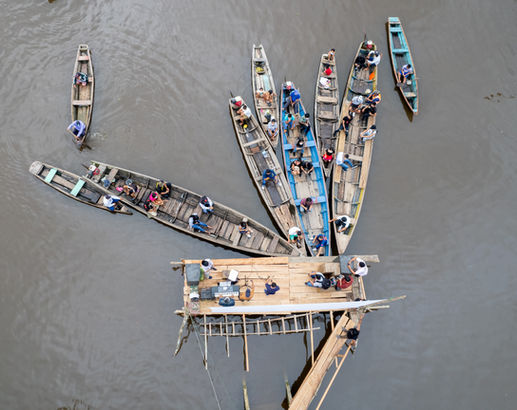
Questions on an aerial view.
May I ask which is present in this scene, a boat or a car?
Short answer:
boat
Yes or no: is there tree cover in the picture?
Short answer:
No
